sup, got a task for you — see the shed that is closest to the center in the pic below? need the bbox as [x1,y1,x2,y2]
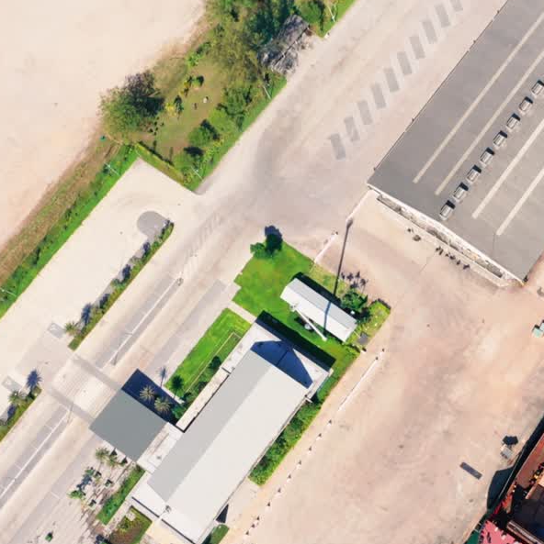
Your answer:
[281,279,359,341]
